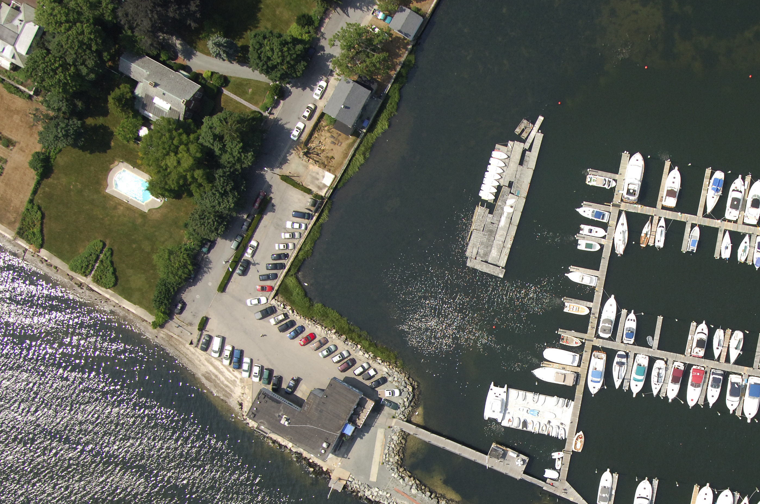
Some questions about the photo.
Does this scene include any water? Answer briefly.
Yes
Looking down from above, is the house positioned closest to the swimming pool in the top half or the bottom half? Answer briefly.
top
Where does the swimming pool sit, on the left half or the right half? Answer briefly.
left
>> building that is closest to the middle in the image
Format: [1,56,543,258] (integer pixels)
[323,79,382,138]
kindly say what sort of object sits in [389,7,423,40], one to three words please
building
